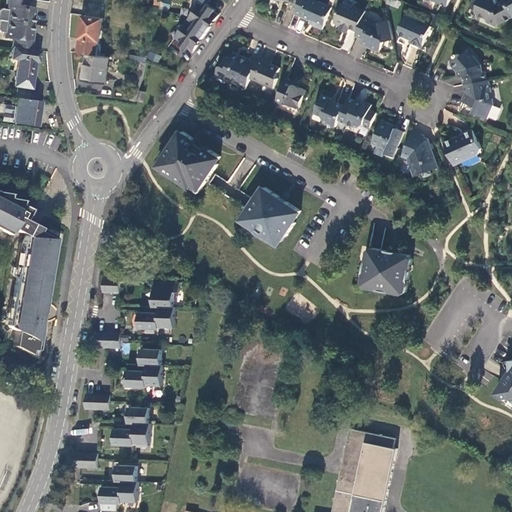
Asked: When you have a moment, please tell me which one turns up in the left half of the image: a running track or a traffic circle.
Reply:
traffic circle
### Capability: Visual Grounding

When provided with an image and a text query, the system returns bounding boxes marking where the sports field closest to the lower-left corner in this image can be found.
[0,392,36,509]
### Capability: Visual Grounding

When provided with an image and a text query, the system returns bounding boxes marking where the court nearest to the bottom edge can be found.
[238,442,301,512]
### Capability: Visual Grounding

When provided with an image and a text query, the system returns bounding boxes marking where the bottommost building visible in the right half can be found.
[331,430,398,512]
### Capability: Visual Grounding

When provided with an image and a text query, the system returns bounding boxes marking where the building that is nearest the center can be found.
[236,186,302,250]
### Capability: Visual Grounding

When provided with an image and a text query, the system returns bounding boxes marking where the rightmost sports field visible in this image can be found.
[402,442,512,512]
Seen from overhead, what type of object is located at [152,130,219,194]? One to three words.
building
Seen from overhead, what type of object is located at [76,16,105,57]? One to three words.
house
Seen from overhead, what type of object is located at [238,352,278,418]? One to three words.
sports court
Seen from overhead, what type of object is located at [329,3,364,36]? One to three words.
house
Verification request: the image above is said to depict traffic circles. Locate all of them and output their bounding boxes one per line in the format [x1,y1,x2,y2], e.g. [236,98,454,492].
[72,144,123,195]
